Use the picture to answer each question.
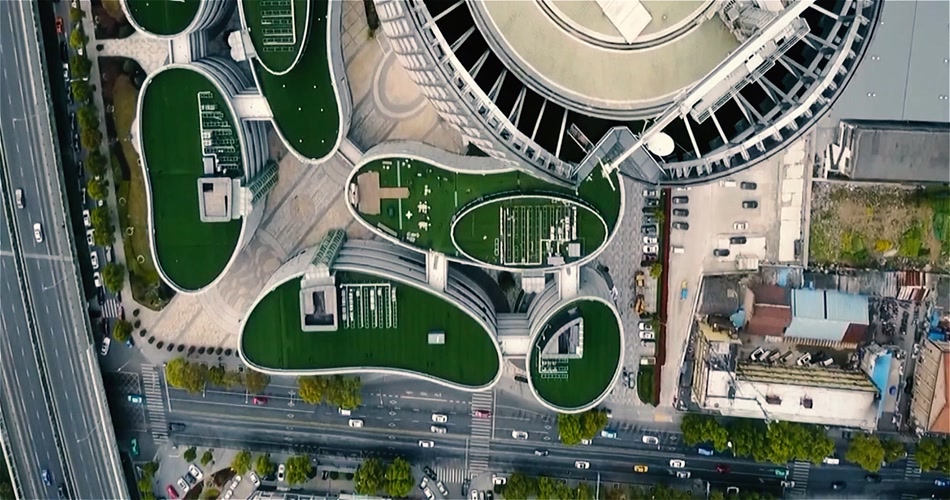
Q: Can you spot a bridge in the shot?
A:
Yes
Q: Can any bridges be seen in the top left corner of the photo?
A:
Yes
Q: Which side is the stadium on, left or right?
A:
right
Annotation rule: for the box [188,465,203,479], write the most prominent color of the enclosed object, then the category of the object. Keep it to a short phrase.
white vehicle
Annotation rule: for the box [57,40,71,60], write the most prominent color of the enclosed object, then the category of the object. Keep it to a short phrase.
black vehicle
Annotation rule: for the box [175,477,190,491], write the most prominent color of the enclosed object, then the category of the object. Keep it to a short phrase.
white vehicle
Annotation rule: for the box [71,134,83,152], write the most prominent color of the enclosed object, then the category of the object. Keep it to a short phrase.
black vehicle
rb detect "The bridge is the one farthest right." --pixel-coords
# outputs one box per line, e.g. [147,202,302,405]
[551,263,580,304]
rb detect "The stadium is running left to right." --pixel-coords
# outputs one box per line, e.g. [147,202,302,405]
[369,0,886,189]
